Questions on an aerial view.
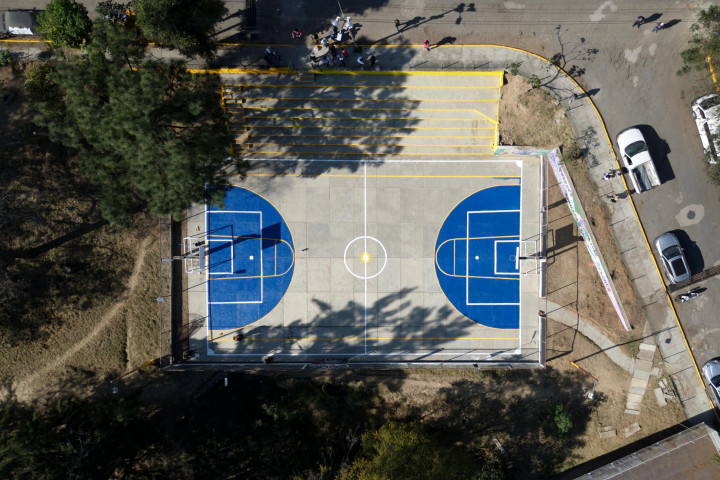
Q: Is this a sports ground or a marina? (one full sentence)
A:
The area seen from above is a sports ground.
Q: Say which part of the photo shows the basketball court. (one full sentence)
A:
You can find the basketball court in the center area of the picture.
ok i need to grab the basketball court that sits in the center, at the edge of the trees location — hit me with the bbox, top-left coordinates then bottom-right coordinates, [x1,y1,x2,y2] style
[188,154,541,361]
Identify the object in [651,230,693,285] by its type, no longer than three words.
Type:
car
